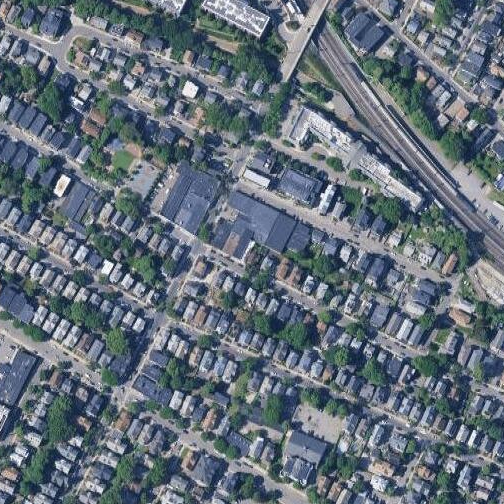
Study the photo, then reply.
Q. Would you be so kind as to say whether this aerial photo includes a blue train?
No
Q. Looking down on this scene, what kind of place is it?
residential area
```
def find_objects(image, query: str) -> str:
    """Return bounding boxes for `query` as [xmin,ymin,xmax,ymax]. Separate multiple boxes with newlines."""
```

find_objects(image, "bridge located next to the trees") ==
[280,0,331,84]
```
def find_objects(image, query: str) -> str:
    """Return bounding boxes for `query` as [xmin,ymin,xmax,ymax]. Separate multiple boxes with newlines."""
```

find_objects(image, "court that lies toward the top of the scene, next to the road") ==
[130,161,160,199]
